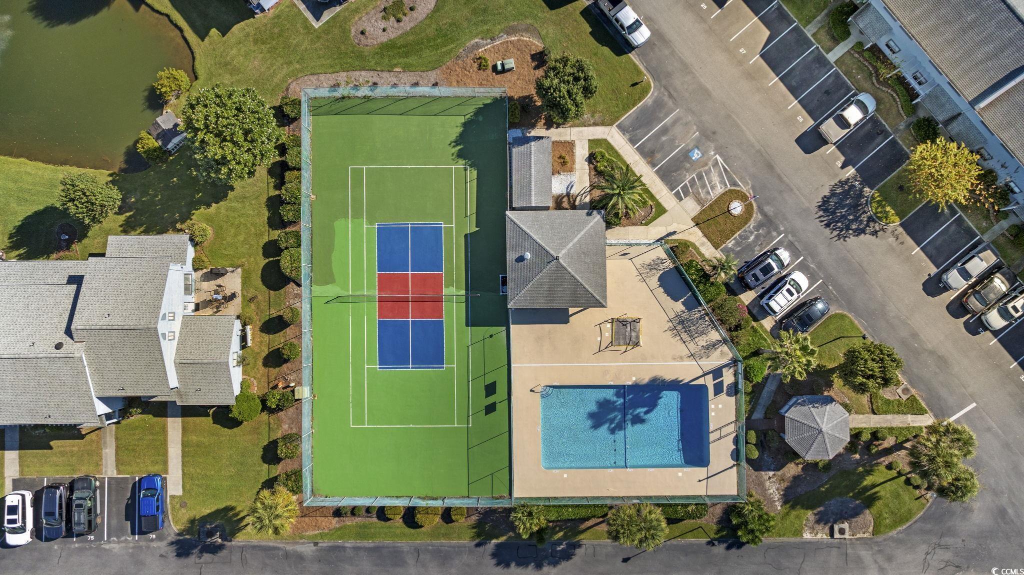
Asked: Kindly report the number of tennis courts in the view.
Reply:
1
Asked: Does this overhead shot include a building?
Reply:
Yes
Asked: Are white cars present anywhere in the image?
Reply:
Yes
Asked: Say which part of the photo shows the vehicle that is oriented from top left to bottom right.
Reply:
top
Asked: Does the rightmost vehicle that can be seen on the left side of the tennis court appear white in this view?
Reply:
No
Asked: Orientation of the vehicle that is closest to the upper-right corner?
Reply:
at an angle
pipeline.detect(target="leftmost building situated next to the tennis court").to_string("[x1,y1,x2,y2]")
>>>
[0,235,242,425]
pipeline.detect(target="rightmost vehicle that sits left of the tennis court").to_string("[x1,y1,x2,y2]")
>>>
[138,472,168,531]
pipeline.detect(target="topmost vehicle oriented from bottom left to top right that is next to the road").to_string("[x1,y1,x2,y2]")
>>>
[815,94,875,147]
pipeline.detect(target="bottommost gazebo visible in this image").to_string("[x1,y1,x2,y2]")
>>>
[777,394,850,460]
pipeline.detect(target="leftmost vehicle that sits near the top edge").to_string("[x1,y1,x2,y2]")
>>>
[590,0,647,53]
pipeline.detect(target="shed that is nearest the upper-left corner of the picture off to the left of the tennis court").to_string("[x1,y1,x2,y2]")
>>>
[148,110,199,163]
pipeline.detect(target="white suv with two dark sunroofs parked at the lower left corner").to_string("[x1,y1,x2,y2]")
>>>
[3,490,35,543]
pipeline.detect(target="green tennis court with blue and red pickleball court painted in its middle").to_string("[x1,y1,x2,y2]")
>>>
[310,96,511,498]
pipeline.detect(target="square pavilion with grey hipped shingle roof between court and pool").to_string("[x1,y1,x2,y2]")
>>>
[506,209,607,308]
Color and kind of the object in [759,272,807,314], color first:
white car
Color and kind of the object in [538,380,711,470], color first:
blue swimming pool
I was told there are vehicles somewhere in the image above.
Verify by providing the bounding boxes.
[42,481,72,536]
[737,247,787,290]
[960,269,1011,313]
[759,272,807,314]
[815,94,875,147]
[977,284,1024,330]
[138,472,168,531]
[71,475,102,532]
[590,0,647,53]
[780,294,830,336]
[937,242,997,292]
[3,490,35,543]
